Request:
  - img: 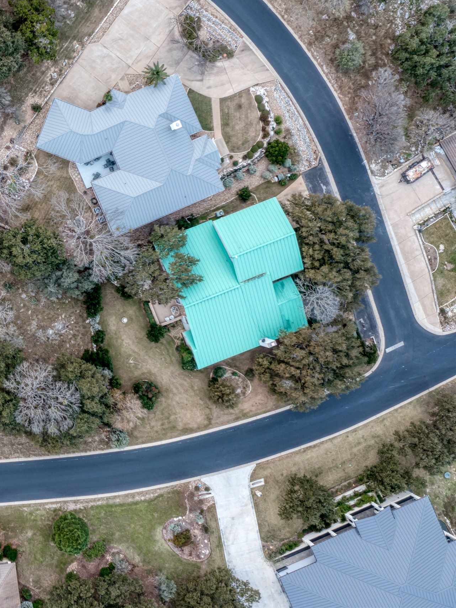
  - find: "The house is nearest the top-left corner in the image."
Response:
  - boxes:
[35,73,225,236]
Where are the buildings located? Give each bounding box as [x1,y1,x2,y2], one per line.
[271,495,456,608]
[0,551,21,608]
[153,198,307,370]
[35,73,225,236]
[430,131,456,192]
